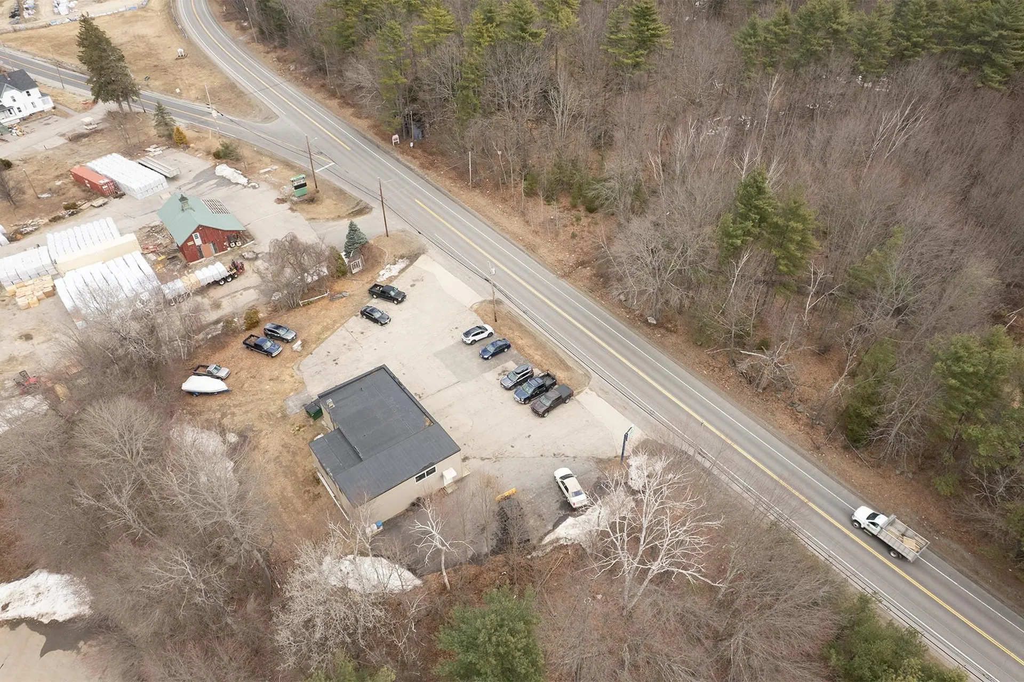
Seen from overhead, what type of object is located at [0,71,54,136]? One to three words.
house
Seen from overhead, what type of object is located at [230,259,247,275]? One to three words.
work vehicle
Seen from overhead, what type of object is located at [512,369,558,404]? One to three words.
truck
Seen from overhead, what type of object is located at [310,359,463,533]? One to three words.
building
